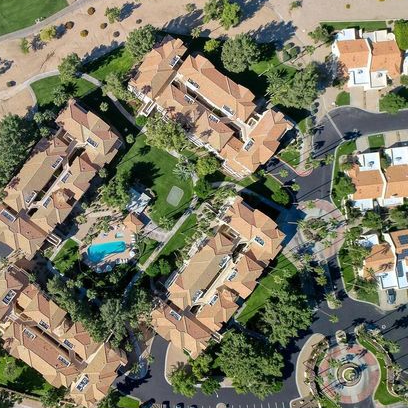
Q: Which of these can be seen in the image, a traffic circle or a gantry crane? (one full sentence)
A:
Looking from above, you can make out a traffic circle.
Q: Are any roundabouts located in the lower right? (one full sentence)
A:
Yes, the scene does show a roundabout in the lower right.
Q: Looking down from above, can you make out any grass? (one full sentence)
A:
Yes, there's grass in this view.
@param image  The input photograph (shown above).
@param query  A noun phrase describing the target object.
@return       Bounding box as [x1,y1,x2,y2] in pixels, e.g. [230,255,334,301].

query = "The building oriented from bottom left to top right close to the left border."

[0,96,122,262]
